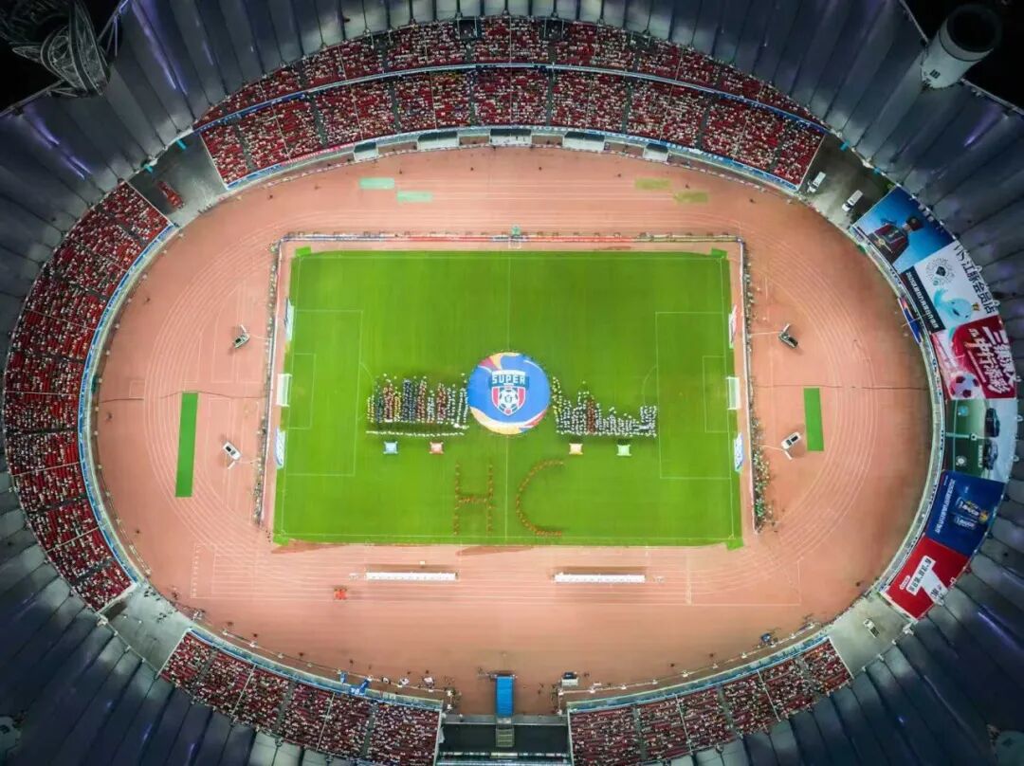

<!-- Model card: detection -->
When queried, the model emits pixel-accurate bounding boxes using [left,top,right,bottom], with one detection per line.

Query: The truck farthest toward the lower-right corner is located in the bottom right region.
[862,617,885,640]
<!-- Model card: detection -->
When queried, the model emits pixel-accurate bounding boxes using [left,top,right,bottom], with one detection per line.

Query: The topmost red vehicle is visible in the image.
[153,175,181,208]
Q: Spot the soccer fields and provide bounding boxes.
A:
[273,247,743,550]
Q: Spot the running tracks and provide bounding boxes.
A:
[93,136,933,714]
